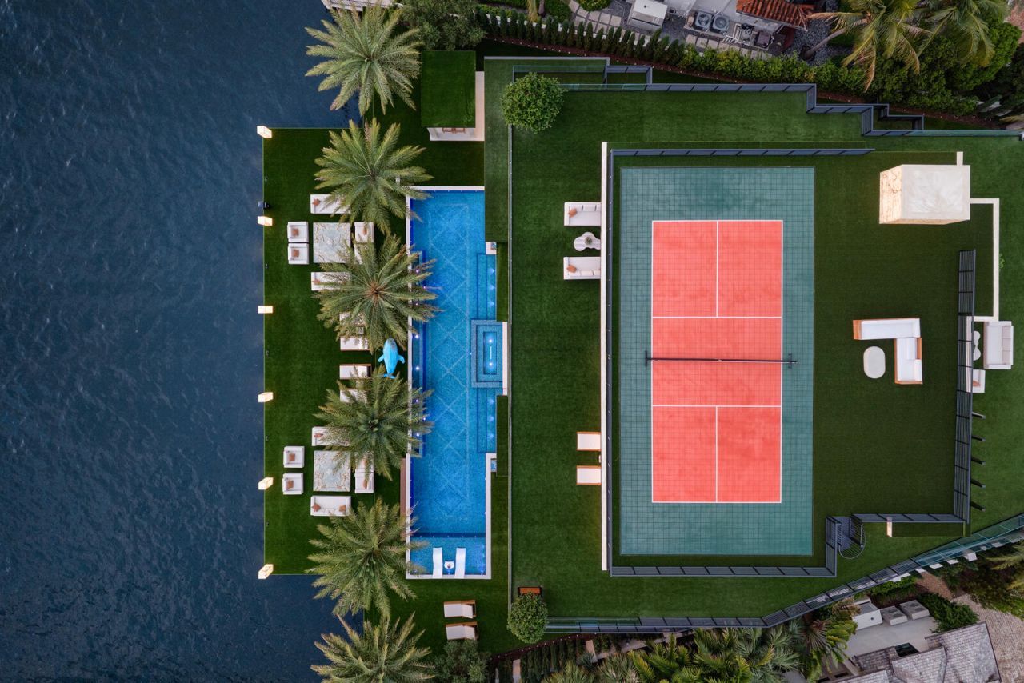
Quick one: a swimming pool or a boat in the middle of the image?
swimming pool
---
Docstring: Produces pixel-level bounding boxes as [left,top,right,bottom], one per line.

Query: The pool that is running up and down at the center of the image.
[406,186,508,579]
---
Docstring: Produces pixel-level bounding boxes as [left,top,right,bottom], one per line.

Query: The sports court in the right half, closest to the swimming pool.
[619,166,815,556]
